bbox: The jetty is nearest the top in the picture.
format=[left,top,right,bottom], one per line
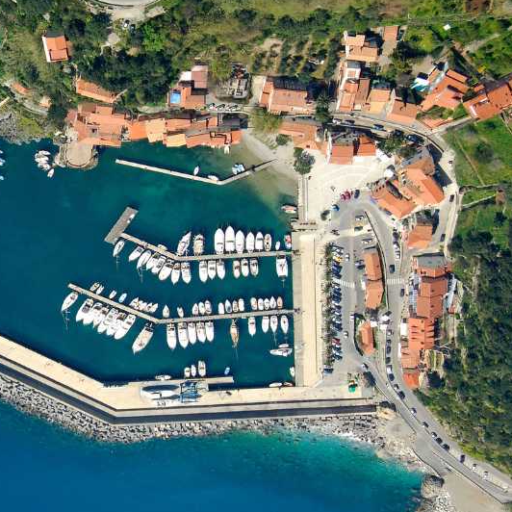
[115,159,264,184]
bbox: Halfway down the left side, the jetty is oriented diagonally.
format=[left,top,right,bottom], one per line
[106,209,135,246]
